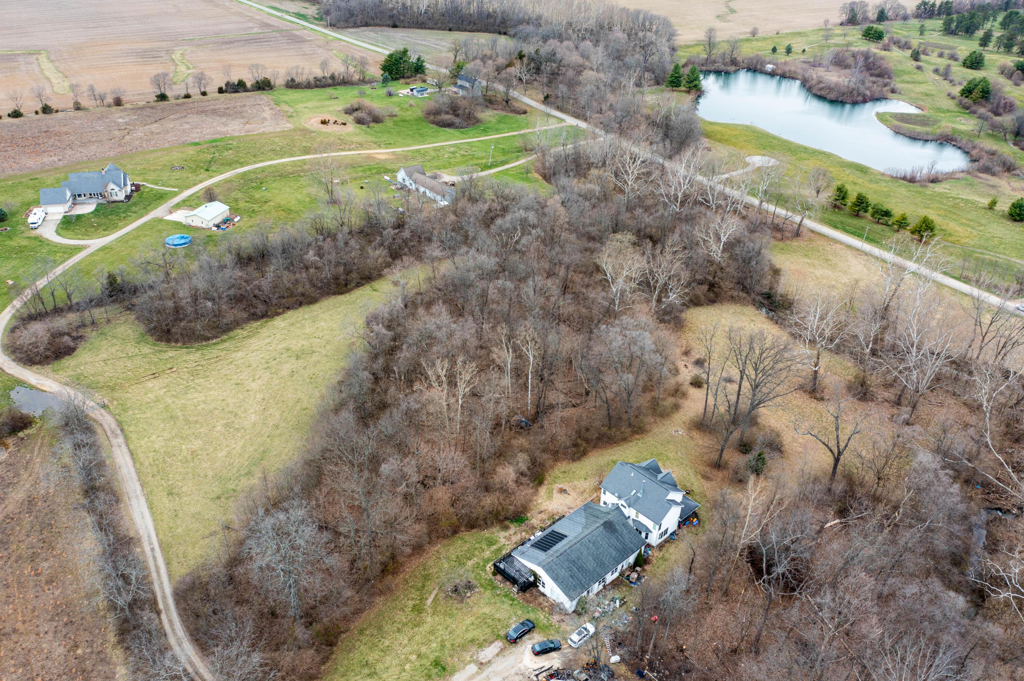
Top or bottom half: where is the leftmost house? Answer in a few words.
top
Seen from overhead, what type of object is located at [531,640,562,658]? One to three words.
car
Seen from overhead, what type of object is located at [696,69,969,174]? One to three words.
pond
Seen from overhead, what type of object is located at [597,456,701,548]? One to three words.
house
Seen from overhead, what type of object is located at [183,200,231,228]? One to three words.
barn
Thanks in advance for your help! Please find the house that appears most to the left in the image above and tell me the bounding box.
[39,162,132,212]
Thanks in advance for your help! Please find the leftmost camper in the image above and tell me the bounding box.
[30,207,46,226]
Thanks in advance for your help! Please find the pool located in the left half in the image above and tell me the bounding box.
[162,232,195,249]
